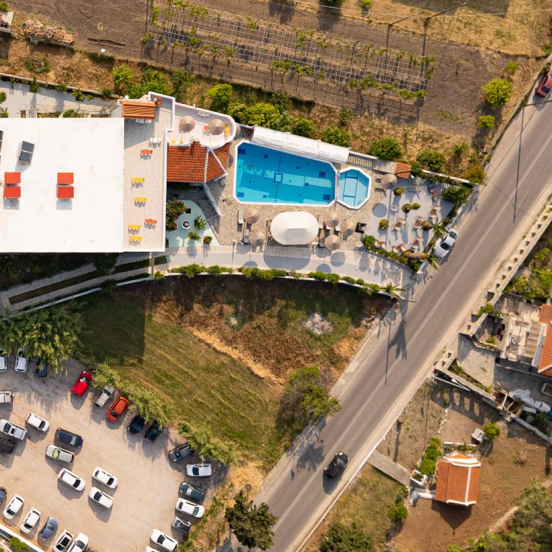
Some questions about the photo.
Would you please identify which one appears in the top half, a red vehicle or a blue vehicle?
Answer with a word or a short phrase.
red vehicle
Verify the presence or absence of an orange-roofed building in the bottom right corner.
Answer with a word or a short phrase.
Yes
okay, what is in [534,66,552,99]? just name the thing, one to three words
car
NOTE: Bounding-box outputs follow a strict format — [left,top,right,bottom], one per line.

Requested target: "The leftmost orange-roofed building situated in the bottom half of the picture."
[425,444,482,512]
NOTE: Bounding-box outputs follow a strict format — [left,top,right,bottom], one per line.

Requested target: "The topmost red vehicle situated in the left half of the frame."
[70,369,89,398]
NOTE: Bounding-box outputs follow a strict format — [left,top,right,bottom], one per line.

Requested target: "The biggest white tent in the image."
[268,210,317,245]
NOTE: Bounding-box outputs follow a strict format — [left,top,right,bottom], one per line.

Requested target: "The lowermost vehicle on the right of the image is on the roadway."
[322,450,345,478]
